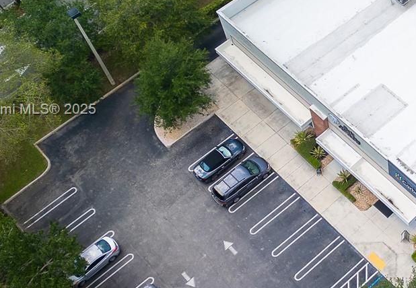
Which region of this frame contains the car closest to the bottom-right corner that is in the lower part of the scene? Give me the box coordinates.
[211,160,271,209]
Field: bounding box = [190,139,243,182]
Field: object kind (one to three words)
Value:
car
